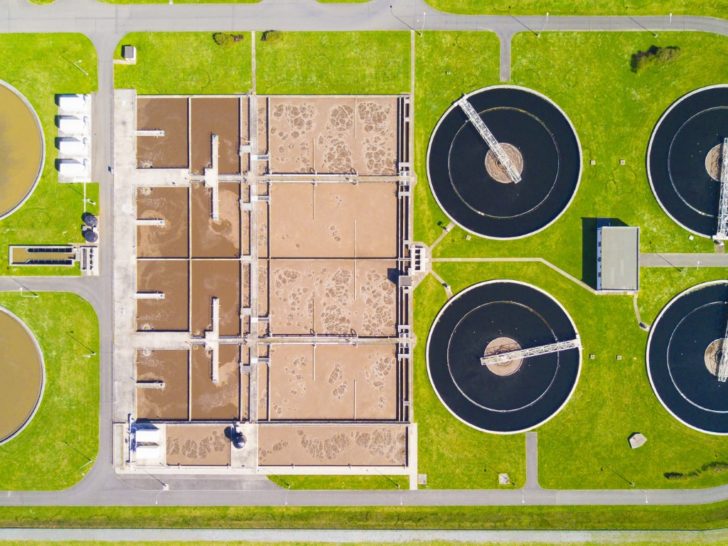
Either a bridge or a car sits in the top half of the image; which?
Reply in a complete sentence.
The one visible in the top half of the image is a bridge.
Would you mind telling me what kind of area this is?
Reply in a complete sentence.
The picture captures an industrial area.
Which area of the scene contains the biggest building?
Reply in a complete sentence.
The biggest building appears toward the right of the photo.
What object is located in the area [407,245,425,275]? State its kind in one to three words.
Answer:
building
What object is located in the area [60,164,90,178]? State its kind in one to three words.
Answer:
building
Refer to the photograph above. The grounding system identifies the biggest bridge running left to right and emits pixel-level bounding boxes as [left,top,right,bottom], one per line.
[480,336,581,365]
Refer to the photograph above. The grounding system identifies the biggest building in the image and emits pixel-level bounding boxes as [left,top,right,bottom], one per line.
[597,227,640,291]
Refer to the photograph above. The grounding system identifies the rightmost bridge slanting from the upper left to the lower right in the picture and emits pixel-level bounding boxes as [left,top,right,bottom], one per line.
[456,96,523,183]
